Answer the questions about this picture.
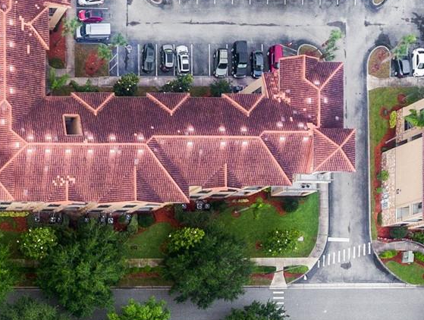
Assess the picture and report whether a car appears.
Yes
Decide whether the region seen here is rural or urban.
urban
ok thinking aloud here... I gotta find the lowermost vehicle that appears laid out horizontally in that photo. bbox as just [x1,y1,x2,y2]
[76,21,113,39]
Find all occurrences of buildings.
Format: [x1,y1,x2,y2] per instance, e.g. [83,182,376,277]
[0,0,355,209]
[384,114,424,224]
